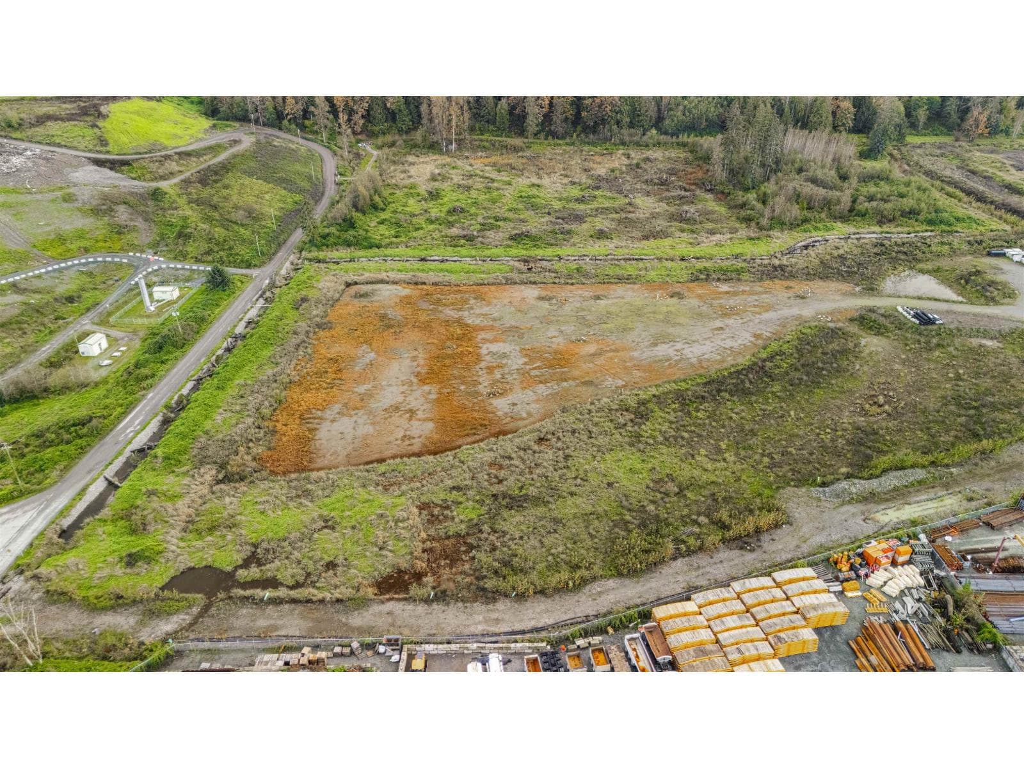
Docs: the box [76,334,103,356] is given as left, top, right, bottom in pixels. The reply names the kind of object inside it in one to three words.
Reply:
shed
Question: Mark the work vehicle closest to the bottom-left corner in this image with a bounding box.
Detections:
[408,649,428,677]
